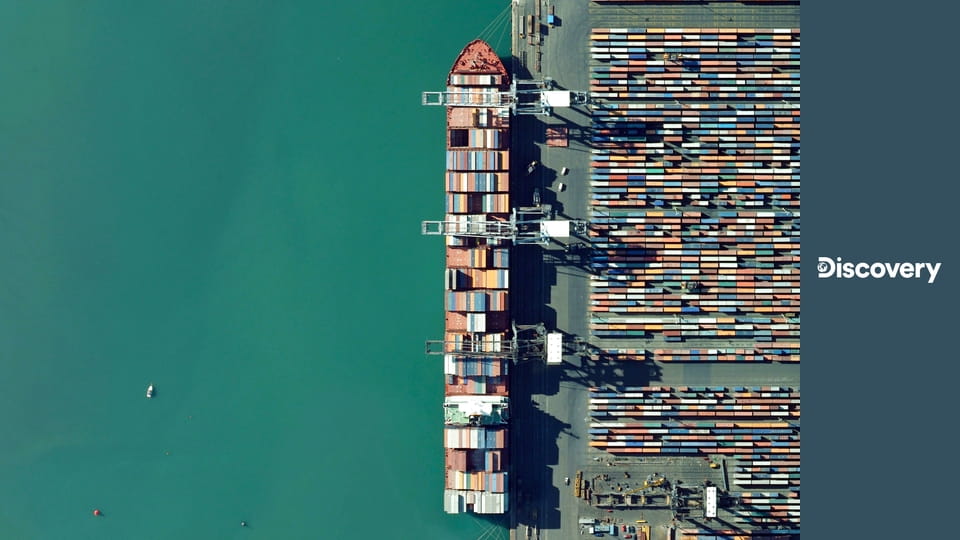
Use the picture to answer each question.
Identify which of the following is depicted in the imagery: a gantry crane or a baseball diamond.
gantry crane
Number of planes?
zero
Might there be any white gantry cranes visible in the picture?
Yes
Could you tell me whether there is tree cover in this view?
No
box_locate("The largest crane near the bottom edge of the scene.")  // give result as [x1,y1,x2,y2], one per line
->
[672,478,740,532]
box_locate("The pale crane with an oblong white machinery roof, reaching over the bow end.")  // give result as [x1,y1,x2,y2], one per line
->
[425,75,588,119]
